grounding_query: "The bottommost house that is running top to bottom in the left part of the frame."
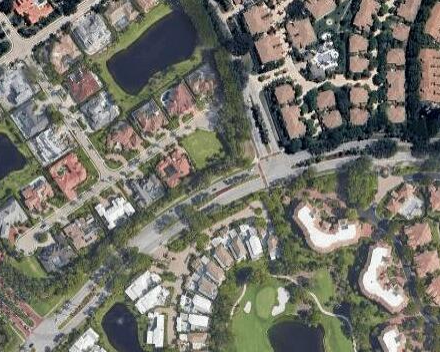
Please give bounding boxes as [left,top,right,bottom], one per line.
[147,308,165,347]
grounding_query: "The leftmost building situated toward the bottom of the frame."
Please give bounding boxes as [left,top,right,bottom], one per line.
[0,196,30,239]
